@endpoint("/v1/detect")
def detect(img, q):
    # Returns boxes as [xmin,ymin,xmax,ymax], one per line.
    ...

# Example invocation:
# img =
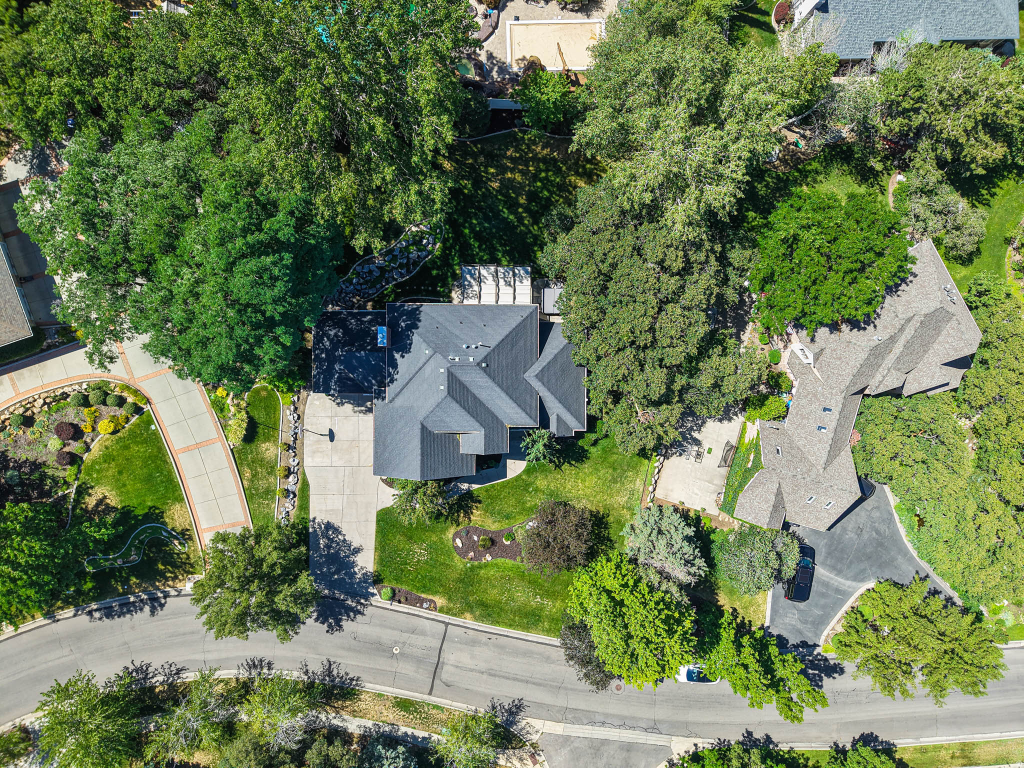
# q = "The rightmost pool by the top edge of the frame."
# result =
[506,17,606,70]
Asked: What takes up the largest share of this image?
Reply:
trees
